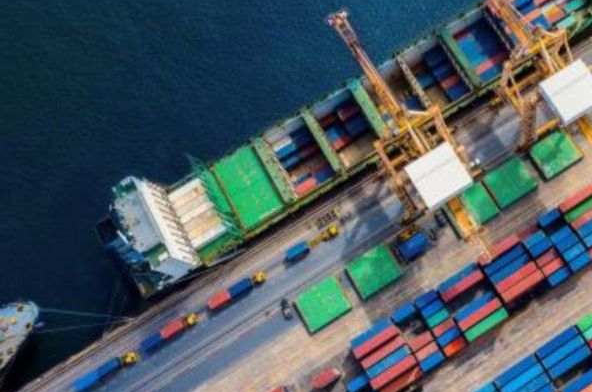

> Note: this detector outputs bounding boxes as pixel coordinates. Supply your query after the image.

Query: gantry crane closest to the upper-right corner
[489,0,592,146]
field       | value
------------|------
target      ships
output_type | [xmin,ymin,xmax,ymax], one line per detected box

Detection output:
[91,0,592,304]
[0,306,47,375]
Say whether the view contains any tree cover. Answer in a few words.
No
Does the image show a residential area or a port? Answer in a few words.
port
